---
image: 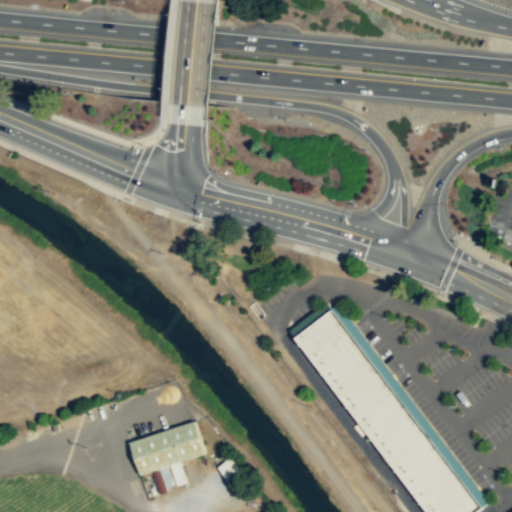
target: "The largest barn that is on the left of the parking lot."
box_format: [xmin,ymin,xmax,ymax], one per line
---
[130,422,206,490]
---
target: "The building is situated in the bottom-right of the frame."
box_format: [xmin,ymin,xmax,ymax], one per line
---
[289,304,486,512]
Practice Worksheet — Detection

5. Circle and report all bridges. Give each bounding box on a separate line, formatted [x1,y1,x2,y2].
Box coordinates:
[160,0,217,107]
